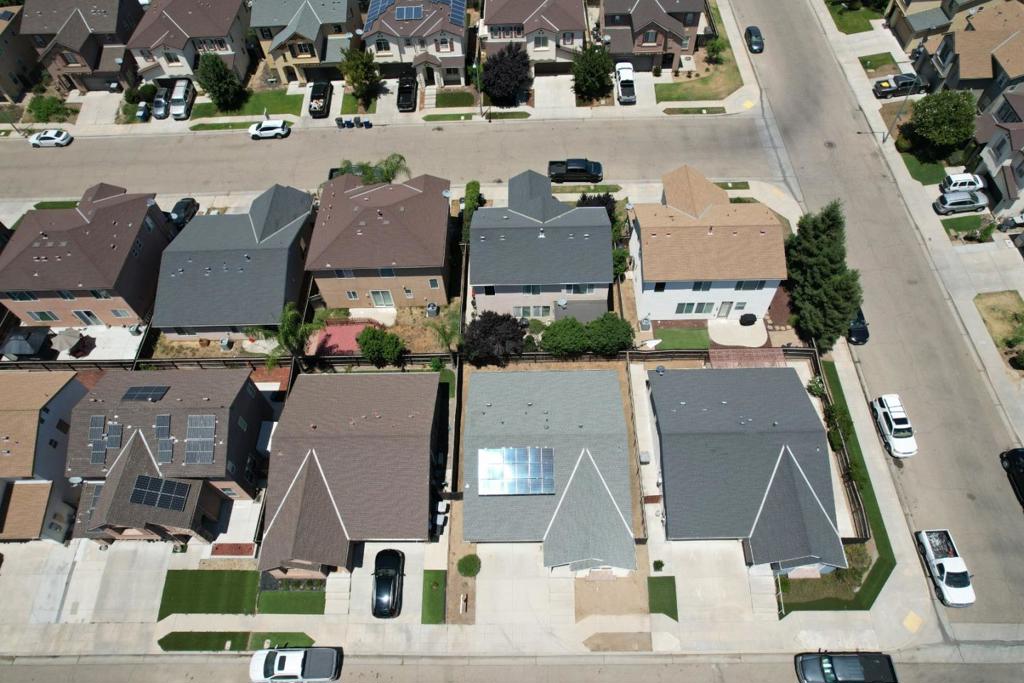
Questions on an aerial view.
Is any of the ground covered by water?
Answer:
No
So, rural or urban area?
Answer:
urban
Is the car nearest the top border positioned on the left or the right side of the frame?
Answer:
right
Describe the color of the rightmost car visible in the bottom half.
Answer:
black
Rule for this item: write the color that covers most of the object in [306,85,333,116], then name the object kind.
black truck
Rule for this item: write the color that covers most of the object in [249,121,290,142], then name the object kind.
white car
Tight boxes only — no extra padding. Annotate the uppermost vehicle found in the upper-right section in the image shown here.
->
[742,28,765,54]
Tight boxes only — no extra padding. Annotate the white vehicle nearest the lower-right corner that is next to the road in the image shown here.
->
[916,529,973,611]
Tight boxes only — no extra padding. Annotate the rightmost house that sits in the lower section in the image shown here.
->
[645,365,848,584]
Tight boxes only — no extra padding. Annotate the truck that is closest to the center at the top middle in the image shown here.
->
[548,160,602,184]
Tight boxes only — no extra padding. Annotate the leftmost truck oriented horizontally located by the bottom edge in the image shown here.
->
[254,646,344,683]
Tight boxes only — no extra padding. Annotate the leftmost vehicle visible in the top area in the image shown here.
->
[29,131,74,150]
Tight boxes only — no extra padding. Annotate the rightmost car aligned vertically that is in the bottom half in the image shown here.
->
[996,449,1024,509]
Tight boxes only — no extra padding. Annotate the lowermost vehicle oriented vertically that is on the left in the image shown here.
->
[371,550,405,620]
